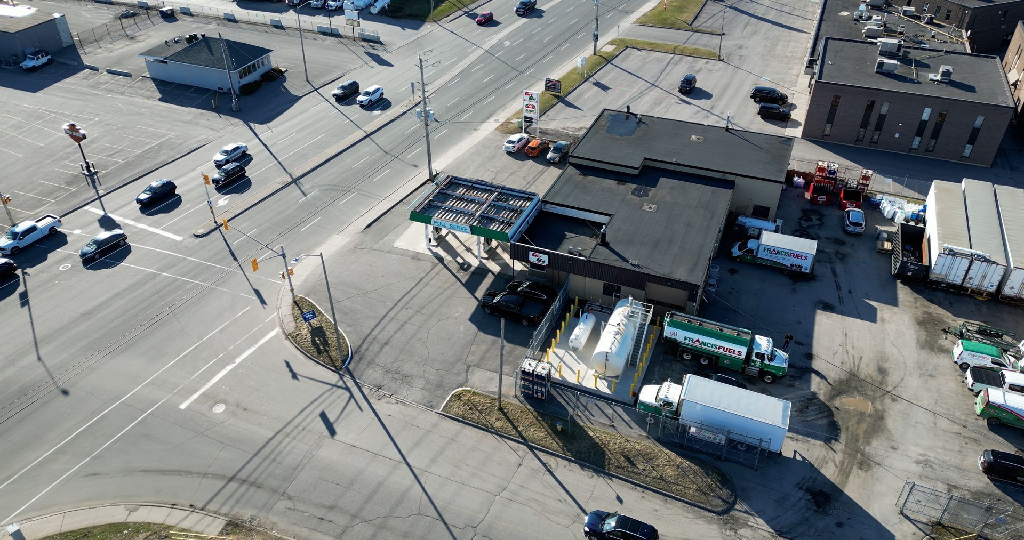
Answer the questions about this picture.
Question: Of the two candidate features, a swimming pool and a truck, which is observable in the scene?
truck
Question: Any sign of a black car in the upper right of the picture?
Yes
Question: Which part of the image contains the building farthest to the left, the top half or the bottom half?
top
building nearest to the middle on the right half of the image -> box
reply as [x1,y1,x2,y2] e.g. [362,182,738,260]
[509,107,795,325]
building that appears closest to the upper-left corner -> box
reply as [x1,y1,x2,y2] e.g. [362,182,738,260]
[0,3,75,62]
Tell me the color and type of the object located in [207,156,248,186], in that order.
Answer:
black car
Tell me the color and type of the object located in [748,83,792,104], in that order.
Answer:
black car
